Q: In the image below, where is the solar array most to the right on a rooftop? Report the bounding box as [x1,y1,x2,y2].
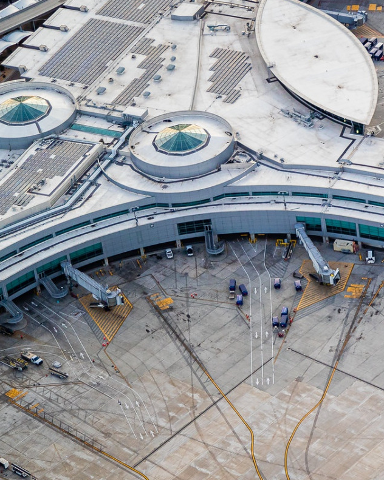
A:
[206,47,254,104]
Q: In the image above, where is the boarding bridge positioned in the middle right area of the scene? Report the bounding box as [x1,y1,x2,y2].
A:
[295,227,342,287]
